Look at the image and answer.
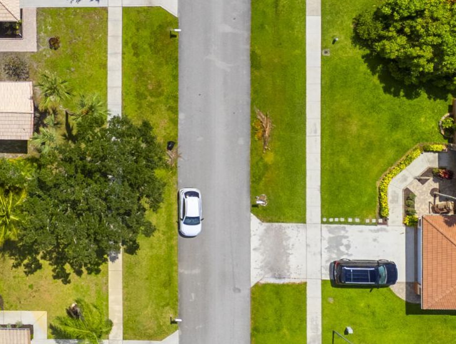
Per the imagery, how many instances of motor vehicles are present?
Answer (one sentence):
My tally gives 2 motor vehicles in this view.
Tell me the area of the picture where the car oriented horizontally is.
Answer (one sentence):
The car oriented horizontally is located in the bottom right region of the scene.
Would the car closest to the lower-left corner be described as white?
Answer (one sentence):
Yes, the car closest to the lower-left corner appears white.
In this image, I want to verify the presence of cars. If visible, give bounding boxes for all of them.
[329,261,397,290]
[178,188,205,238]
